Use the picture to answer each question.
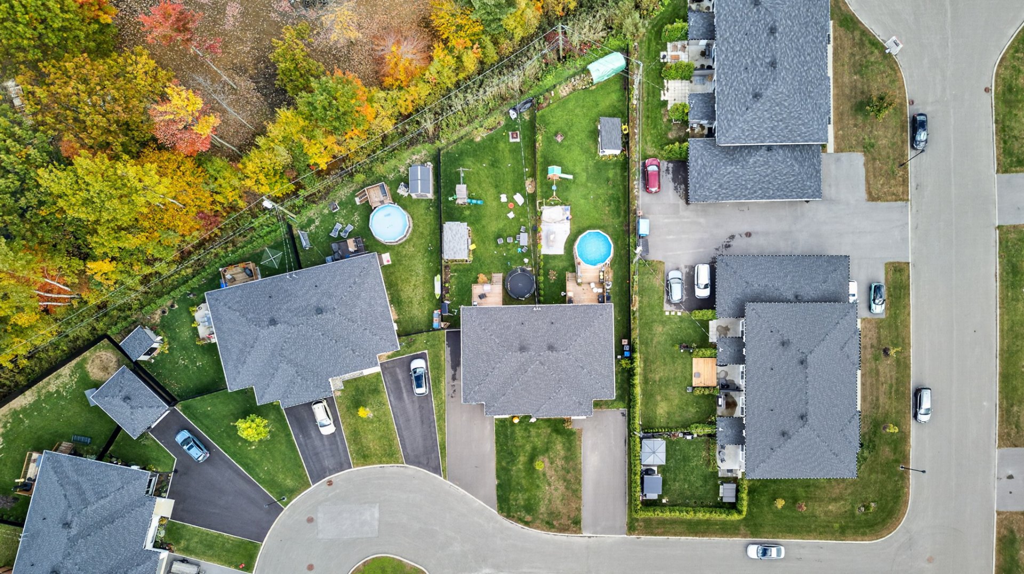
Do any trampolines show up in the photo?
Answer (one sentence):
Yes, there is a trampoline in the image.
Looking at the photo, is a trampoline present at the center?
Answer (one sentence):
Yes, I can see a trampoline at the center.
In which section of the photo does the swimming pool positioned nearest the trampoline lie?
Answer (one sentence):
The swimming pool positioned nearest the trampoline appears toward the center of the photo.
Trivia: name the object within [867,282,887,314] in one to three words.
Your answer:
car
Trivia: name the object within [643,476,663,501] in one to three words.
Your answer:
shed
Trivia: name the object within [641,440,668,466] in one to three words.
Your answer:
gazebo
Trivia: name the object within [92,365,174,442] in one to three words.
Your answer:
building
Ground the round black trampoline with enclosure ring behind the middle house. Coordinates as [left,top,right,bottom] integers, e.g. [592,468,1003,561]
[506,267,535,298]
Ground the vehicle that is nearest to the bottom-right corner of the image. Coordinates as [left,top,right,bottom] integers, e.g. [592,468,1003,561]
[912,387,934,423]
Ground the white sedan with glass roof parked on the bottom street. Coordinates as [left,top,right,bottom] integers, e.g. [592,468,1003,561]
[746,543,785,562]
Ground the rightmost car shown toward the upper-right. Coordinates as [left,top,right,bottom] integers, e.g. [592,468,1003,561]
[909,112,930,151]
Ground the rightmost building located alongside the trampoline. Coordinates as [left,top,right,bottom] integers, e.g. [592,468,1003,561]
[461,304,616,417]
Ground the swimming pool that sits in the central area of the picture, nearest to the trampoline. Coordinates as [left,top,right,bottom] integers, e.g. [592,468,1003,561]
[575,229,613,267]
